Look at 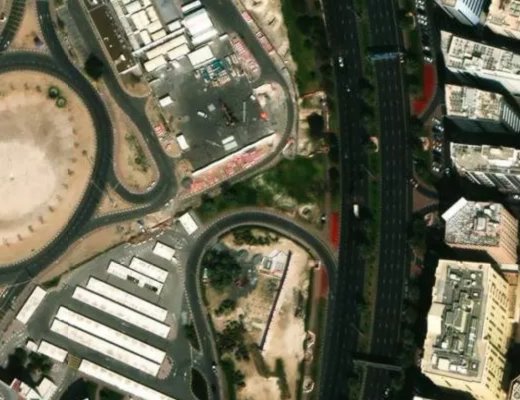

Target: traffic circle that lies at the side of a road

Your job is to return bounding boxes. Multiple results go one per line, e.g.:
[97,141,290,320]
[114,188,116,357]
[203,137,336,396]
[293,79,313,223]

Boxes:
[0,54,110,282]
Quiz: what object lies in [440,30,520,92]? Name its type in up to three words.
building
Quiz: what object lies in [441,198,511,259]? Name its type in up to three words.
building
